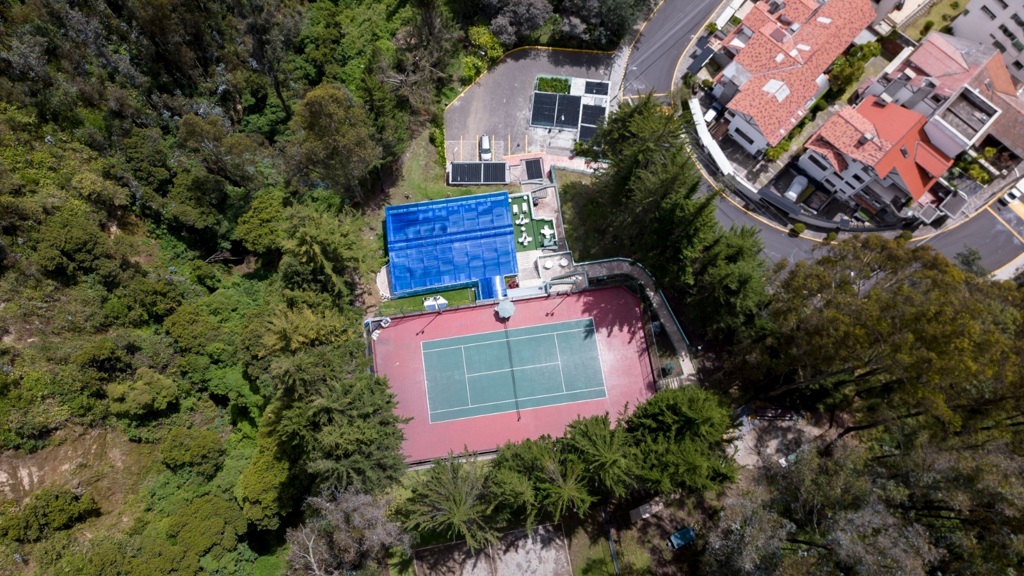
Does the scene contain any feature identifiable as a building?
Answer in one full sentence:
Yes, the frame does contain a building.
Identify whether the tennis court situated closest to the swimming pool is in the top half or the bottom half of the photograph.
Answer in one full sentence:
The tennis court situated closest to the swimming pool is in the bottom half of the image.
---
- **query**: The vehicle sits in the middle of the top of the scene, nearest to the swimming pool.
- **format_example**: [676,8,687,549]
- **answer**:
[478,133,493,162]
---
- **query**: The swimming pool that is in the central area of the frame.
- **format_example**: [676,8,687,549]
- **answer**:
[389,199,513,289]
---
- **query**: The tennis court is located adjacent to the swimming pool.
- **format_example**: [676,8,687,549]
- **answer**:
[373,290,657,465]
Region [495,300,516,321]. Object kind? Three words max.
umbrella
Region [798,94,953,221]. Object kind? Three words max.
house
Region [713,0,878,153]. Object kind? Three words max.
house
